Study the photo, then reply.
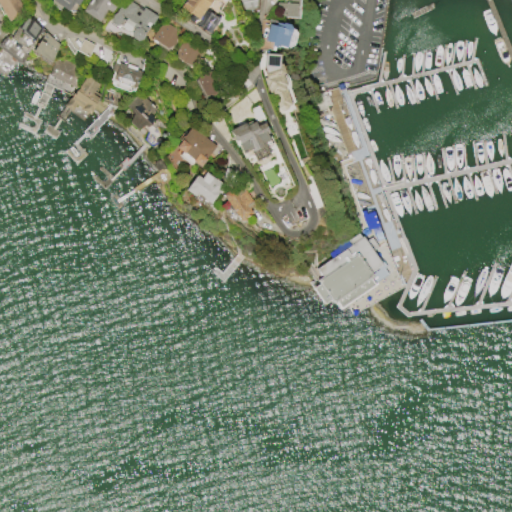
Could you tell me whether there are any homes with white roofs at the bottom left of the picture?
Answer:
No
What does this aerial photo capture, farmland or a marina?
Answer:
marina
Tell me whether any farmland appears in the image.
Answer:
No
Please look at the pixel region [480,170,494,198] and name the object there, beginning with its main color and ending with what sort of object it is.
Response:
white boat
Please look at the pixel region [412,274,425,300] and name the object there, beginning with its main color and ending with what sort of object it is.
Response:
white boat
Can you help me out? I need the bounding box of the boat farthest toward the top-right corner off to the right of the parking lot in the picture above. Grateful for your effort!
[483,8,497,36]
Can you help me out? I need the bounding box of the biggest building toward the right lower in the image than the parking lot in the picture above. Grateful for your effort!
[312,234,390,309]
